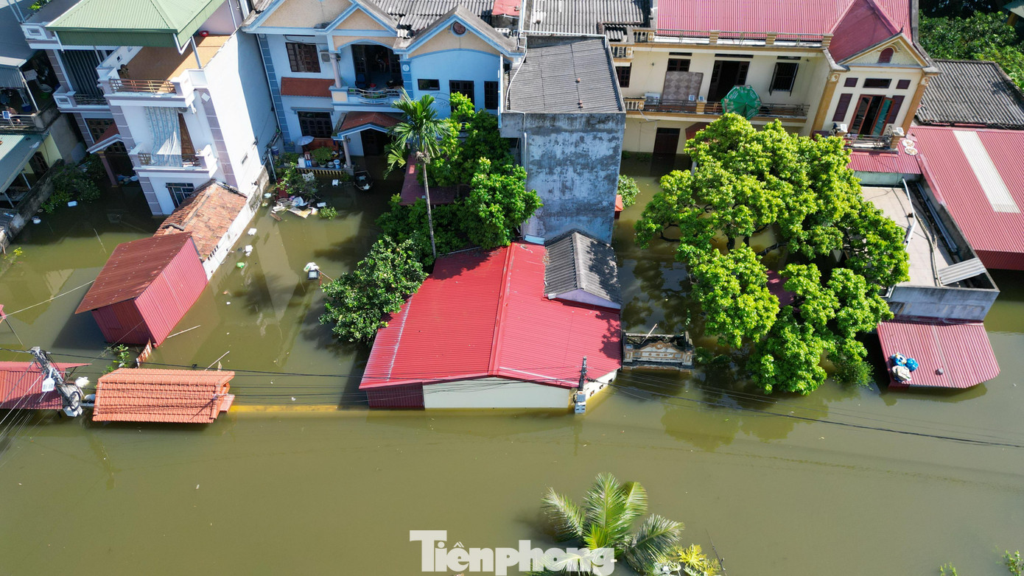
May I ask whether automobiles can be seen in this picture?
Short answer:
No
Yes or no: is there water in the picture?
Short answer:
Yes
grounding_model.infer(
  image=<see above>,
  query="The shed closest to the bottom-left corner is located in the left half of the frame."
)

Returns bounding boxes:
[76,232,208,346]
